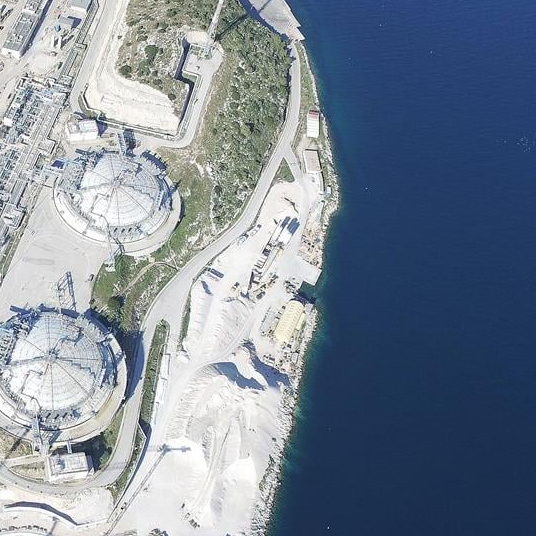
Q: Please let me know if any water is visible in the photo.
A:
Yes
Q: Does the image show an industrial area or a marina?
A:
industrial area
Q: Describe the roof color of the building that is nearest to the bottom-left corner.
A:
white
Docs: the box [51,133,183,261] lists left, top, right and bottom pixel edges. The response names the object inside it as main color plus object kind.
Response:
white storage tank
